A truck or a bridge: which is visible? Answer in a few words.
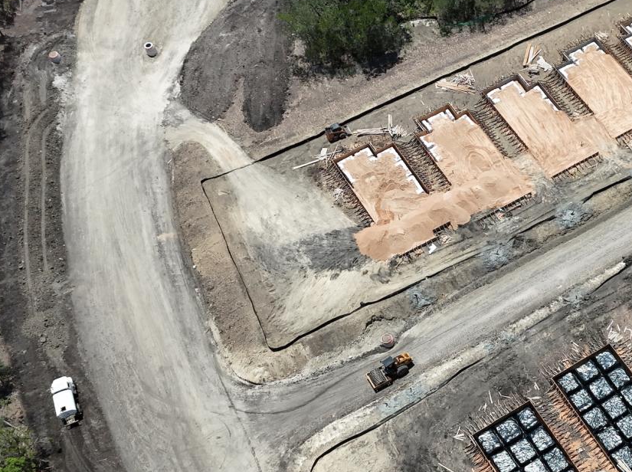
truck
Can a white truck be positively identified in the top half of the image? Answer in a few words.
No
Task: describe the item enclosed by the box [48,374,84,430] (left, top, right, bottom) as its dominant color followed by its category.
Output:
white truck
